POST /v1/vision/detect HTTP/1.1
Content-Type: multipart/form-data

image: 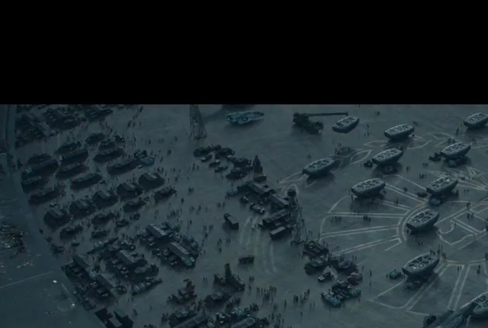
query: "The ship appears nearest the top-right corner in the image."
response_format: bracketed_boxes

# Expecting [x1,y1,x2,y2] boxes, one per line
[463,115,488,135]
